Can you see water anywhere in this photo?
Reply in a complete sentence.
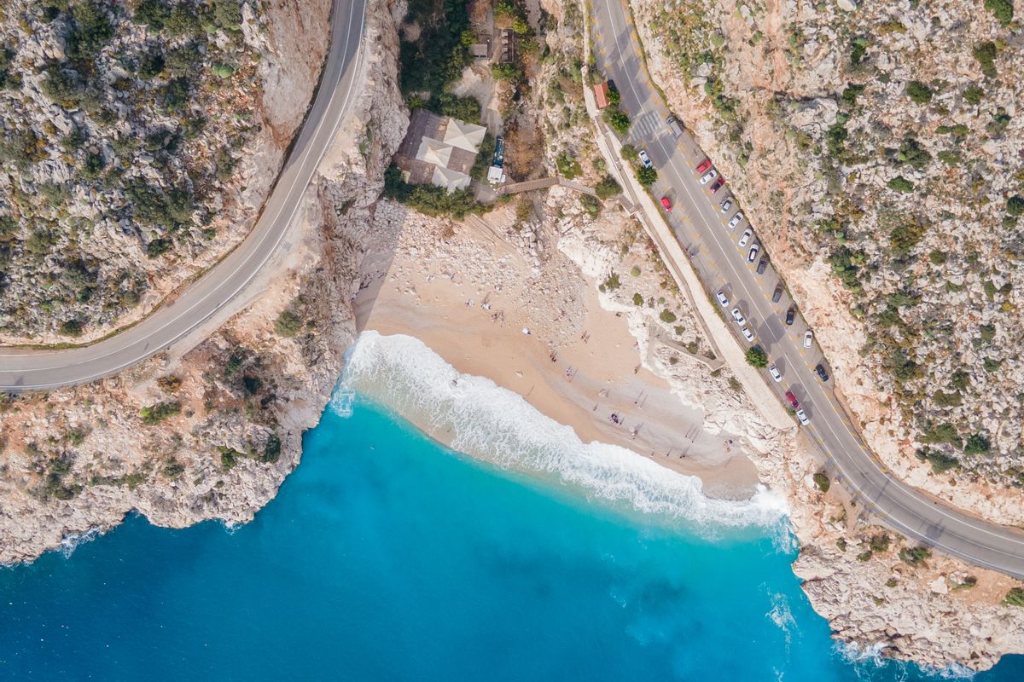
Yes, water shows up in the scene.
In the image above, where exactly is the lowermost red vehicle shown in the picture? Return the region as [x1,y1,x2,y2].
[785,390,799,408]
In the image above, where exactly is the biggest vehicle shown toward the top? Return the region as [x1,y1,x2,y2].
[486,136,505,183]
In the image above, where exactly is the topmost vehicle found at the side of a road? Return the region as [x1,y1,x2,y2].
[667,117,684,138]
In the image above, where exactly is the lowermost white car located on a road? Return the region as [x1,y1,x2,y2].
[796,408,810,426]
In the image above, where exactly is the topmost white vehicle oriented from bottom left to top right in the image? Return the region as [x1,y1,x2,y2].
[699,169,717,185]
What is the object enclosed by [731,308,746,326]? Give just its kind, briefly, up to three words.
car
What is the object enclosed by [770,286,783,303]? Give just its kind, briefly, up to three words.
vehicle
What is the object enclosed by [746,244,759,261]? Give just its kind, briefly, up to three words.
vehicle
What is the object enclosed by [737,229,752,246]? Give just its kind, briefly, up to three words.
car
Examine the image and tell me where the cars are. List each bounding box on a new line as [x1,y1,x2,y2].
[746,244,759,261]
[814,364,829,382]
[709,178,725,192]
[740,326,755,344]
[737,229,752,246]
[639,150,653,168]
[796,408,810,426]
[715,290,729,308]
[770,286,783,303]
[784,307,795,324]
[731,308,746,326]
[785,390,799,408]
[727,211,742,228]
[699,169,717,185]
[769,365,783,383]
[755,256,768,274]
[801,331,812,348]
[695,159,712,173]
[719,197,734,213]
[659,196,672,213]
